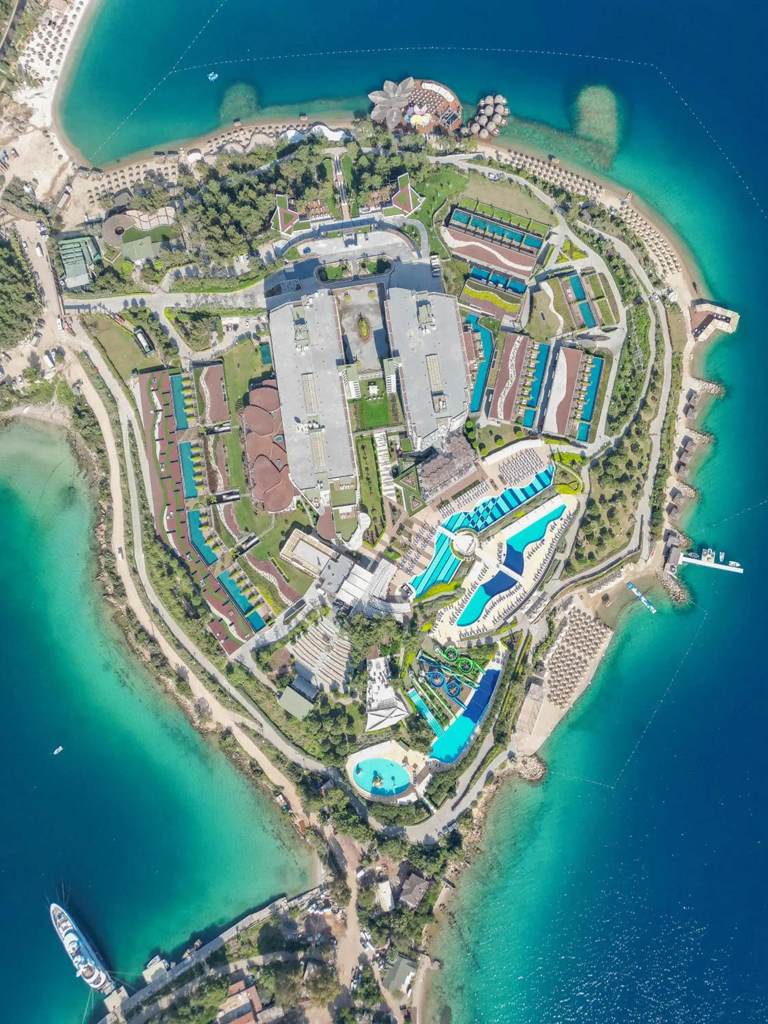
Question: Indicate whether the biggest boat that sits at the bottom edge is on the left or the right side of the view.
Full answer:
The biggest boat that sits at the bottom edge is on the left side of the image.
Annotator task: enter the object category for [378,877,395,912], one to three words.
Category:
house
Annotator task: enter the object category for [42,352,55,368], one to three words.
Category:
vehicle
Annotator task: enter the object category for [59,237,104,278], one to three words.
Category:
building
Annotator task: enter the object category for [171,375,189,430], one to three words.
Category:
swimming pool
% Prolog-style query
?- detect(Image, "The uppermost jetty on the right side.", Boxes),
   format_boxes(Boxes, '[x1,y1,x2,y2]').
[690,303,740,343]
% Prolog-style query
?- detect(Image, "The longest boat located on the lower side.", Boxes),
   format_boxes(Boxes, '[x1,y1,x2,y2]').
[46,882,137,1022]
